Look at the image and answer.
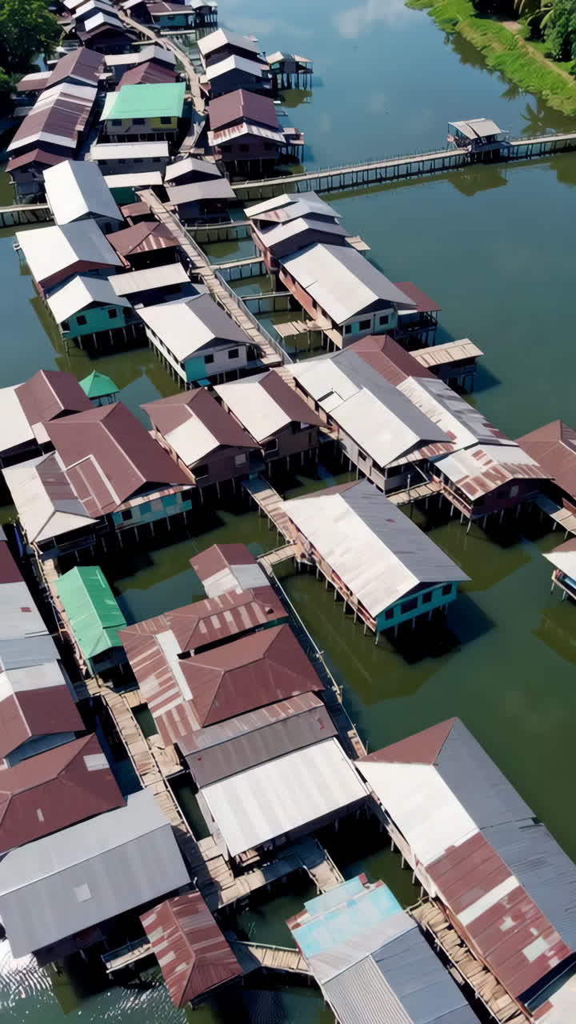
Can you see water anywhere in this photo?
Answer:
Yes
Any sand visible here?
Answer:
No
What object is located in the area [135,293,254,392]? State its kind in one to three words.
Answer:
house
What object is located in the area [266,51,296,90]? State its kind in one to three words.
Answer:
shed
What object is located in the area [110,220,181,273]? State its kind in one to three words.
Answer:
house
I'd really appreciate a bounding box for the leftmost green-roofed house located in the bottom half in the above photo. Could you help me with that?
[54,565,128,677]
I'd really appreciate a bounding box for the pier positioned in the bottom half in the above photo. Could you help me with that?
[98,933,159,982]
